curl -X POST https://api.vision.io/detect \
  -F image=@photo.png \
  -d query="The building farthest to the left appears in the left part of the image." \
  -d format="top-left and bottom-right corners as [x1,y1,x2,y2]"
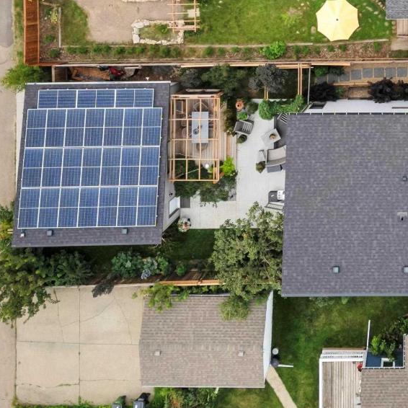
[11,81,181,248]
